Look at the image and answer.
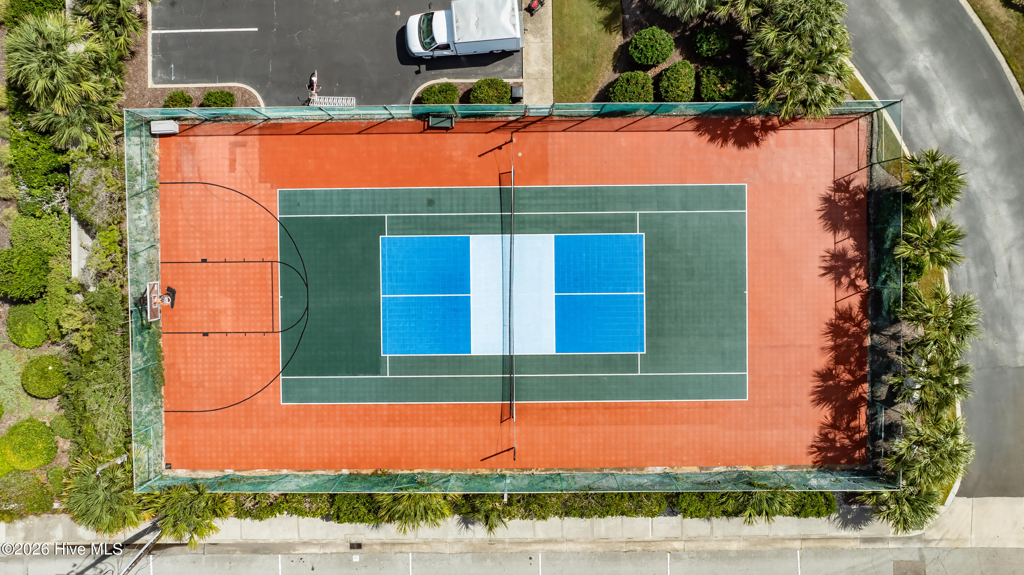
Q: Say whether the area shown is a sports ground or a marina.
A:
sports ground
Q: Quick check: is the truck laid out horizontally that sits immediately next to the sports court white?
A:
Yes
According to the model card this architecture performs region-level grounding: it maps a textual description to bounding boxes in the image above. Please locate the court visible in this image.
[159,115,867,470]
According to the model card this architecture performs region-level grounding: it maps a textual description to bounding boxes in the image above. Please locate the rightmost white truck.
[401,0,528,62]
